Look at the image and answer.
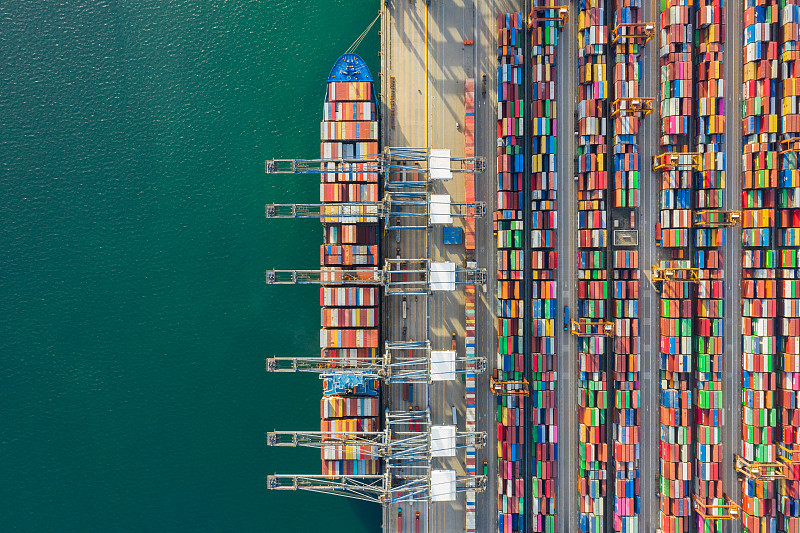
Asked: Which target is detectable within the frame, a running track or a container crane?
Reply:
container crane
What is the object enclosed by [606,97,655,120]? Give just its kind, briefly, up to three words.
container crane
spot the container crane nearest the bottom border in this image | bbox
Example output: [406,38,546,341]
[689,492,743,519]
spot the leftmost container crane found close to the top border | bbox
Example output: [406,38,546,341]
[523,5,570,34]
